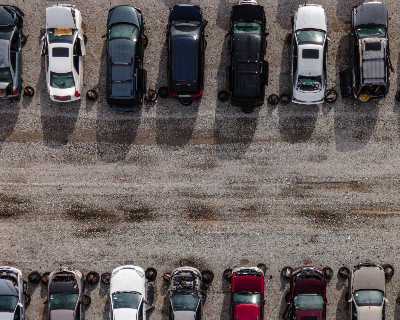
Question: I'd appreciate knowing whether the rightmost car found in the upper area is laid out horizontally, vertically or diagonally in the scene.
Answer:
vertically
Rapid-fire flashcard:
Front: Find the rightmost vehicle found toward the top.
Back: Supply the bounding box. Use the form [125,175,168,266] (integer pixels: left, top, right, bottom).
[349,2,394,102]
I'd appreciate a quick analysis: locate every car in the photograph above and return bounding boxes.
[0,266,27,320]
[106,265,147,320]
[290,5,332,105]
[226,266,269,320]
[347,264,389,320]
[44,267,87,320]
[166,266,204,320]
[349,2,394,102]
[102,5,145,111]
[41,5,89,102]
[282,266,330,320]
[163,5,207,100]
[226,4,269,107]
[0,6,24,100]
